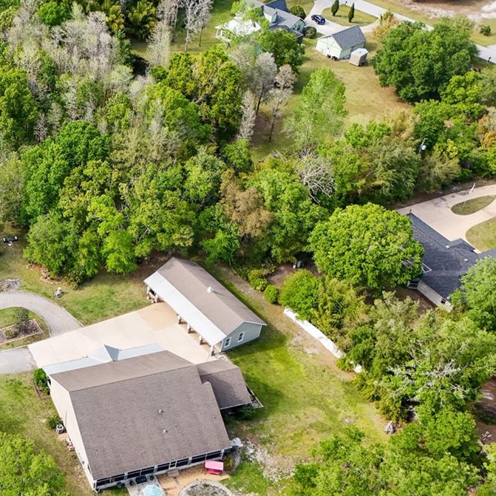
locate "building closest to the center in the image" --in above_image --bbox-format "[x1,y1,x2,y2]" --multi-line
[145,258,266,355]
